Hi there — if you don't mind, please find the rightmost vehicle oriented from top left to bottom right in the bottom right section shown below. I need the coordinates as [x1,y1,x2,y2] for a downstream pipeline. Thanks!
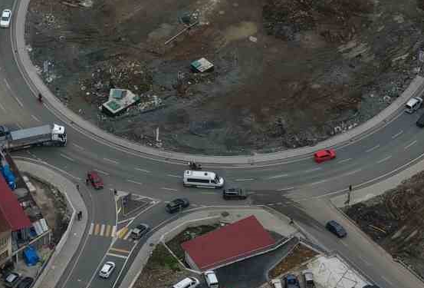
[325,218,347,238]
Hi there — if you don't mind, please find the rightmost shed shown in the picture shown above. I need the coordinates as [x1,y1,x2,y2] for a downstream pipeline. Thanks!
[180,214,278,284]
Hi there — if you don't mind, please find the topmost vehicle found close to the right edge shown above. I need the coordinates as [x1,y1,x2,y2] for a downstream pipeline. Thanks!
[402,96,424,113]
